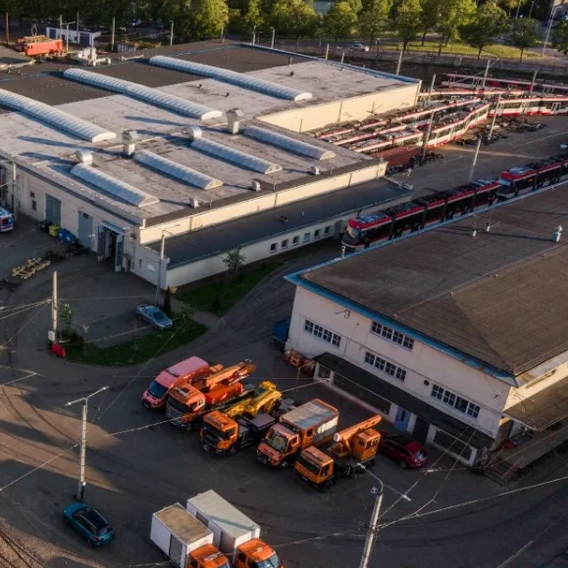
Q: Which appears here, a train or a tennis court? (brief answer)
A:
train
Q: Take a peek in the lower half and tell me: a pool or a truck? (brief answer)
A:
truck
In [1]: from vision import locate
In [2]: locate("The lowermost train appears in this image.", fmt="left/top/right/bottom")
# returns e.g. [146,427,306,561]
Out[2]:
[325,182,493,254]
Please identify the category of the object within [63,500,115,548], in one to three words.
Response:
car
